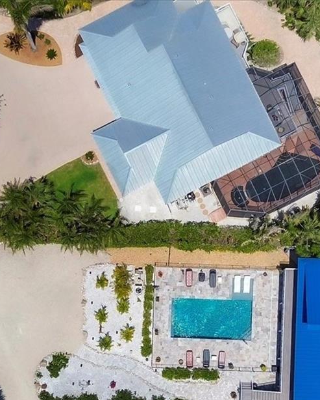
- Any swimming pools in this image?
Yes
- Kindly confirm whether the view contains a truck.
No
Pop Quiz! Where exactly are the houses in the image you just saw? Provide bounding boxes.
[275,258,320,400]
[78,0,281,204]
